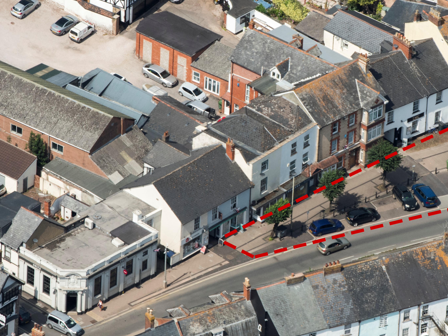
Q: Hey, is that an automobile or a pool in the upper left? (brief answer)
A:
automobile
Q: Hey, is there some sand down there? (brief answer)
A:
No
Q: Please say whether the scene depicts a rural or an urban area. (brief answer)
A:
urban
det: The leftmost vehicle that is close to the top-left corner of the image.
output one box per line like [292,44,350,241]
[11,0,42,17]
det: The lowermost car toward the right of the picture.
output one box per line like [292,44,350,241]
[315,235,351,254]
